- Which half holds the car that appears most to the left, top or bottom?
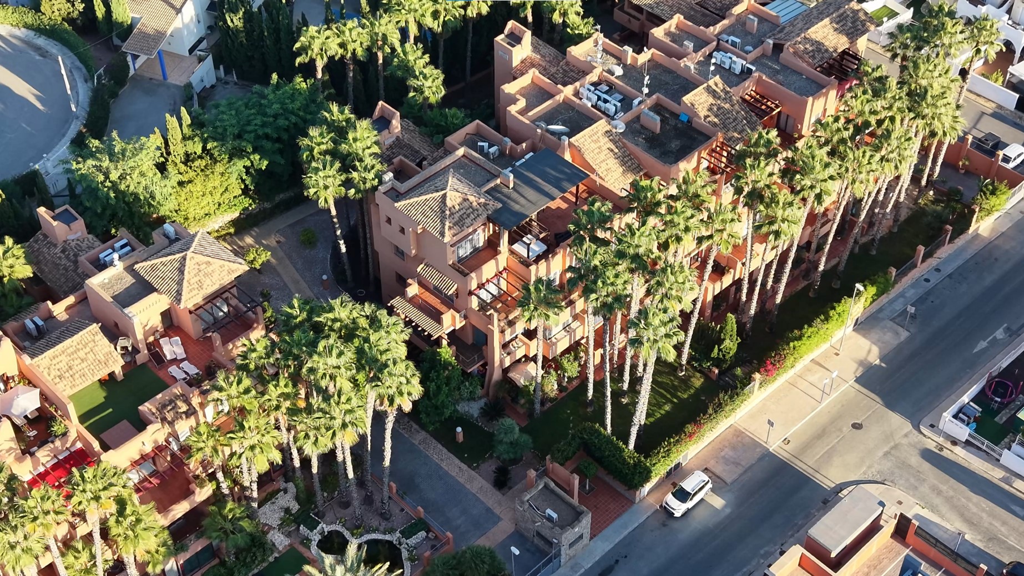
bottom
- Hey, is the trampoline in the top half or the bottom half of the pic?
bottom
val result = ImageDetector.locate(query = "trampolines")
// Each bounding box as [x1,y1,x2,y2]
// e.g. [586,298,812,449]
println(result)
[981,363,1024,414]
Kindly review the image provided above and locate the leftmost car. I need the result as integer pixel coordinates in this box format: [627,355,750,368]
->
[661,467,714,517]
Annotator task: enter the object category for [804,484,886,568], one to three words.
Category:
building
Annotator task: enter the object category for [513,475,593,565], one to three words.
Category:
shed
